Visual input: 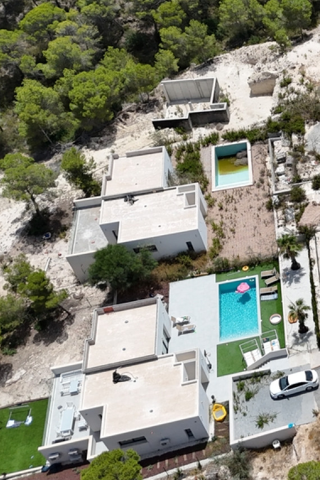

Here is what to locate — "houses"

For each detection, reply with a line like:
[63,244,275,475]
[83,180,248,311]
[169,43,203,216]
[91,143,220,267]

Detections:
[37,295,213,480]
[63,146,206,273]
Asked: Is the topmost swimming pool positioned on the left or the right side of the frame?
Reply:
right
